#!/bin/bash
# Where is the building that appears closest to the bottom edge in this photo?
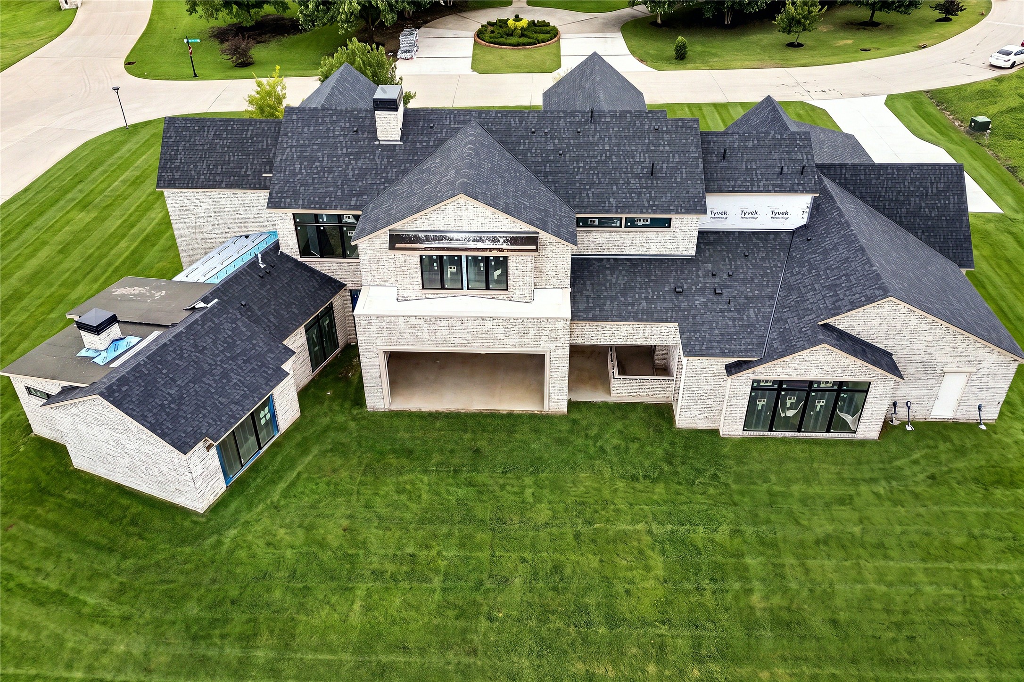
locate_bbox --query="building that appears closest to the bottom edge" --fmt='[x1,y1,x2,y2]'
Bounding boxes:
[0,51,1024,489]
